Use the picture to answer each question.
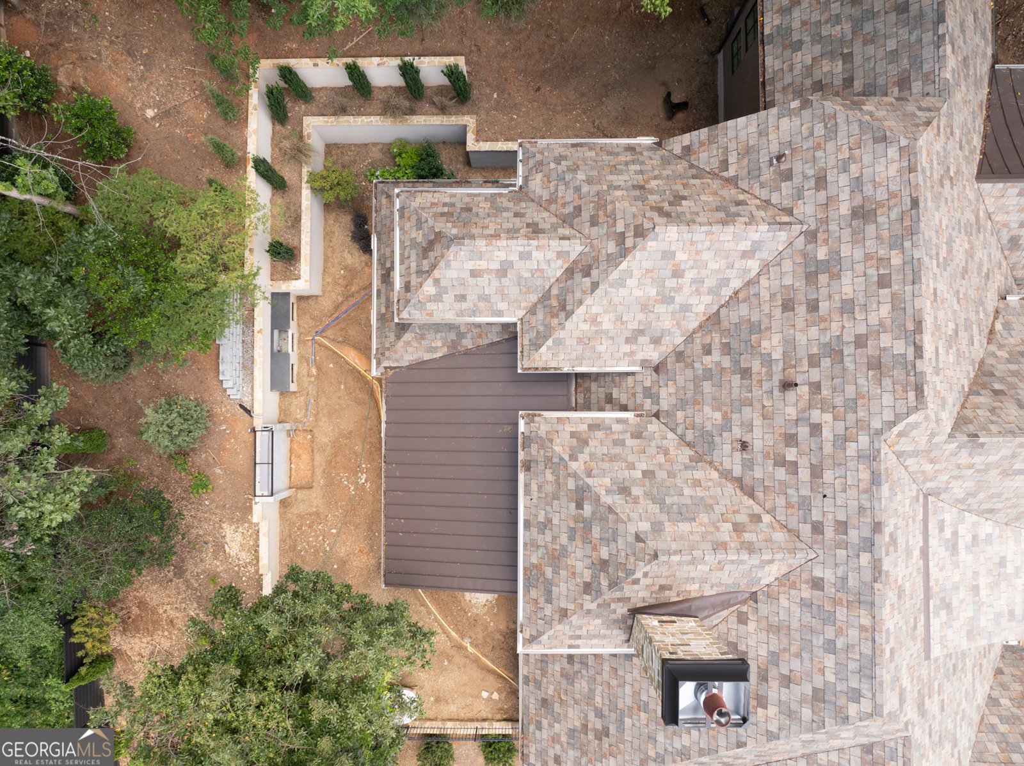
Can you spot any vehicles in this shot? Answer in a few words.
No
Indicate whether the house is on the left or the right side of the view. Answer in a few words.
right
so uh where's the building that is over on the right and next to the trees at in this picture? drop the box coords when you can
[371,0,1024,766]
